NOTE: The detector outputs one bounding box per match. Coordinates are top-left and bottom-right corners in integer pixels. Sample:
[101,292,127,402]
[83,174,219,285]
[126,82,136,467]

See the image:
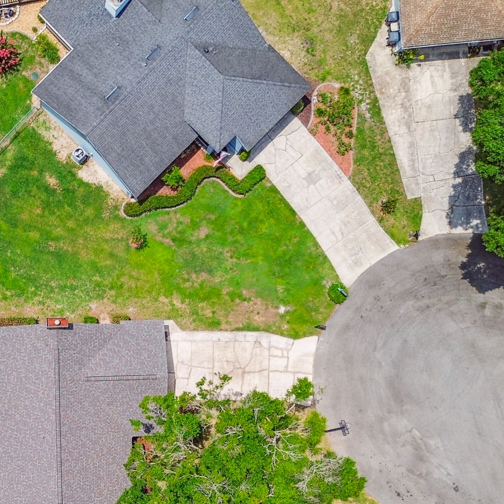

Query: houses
[0,317,168,504]
[390,0,504,58]
[21,0,310,200]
